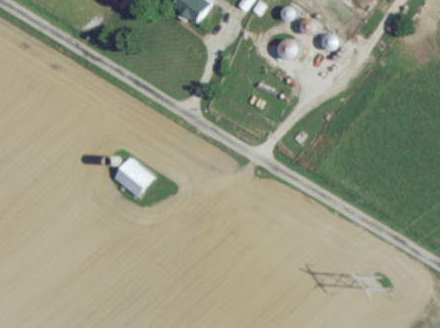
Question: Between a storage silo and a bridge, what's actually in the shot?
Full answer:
The image shows a storage silo.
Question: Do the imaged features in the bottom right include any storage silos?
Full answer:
No, I see no storage silo in the bottom right.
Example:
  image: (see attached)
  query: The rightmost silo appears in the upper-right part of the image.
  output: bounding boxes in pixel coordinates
[322,33,343,52]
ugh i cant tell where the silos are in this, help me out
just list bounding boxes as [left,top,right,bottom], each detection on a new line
[281,4,301,22]
[322,33,343,52]
[278,38,302,60]
[102,154,122,166]
[301,17,322,36]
